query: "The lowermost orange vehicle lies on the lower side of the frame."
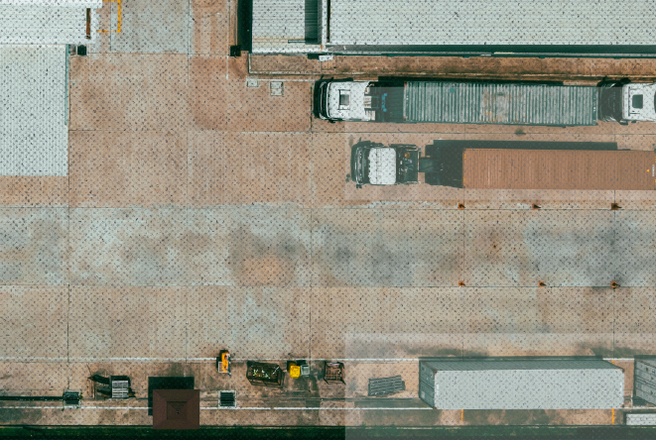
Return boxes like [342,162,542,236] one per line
[216,349,231,376]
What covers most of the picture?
paved ground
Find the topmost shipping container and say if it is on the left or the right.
right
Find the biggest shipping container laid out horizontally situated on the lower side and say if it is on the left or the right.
right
